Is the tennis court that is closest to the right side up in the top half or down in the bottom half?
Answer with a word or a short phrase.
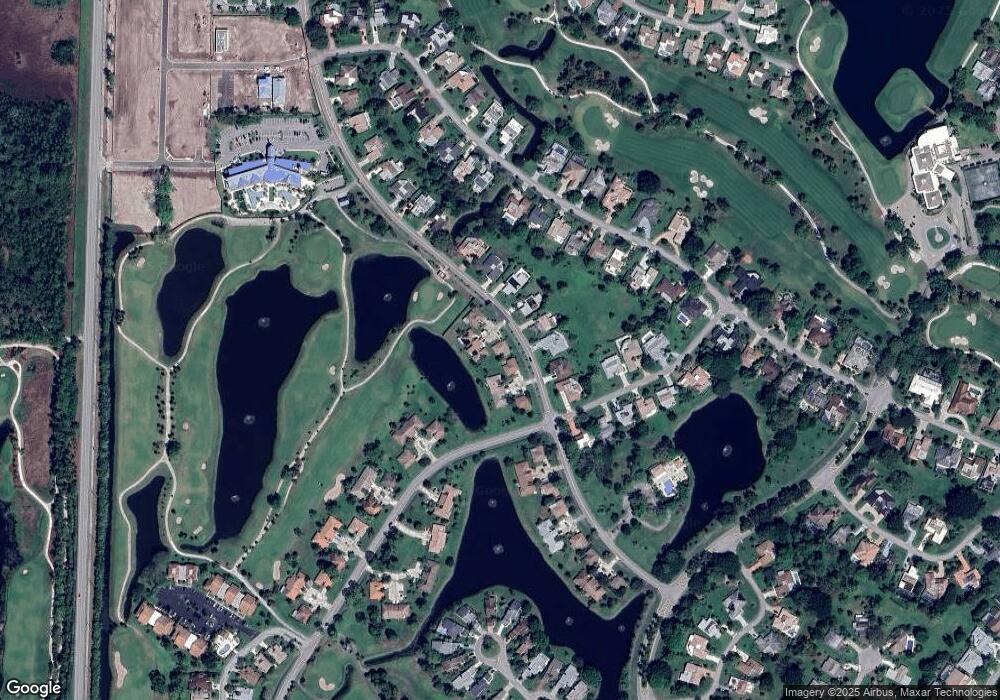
top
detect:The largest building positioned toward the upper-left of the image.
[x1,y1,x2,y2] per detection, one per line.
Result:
[224,142,312,190]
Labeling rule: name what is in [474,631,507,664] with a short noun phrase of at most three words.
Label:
roundabout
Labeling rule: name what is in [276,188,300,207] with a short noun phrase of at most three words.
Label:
swimming pool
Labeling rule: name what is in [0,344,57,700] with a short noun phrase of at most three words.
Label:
golf course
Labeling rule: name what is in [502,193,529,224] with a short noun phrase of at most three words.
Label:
house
